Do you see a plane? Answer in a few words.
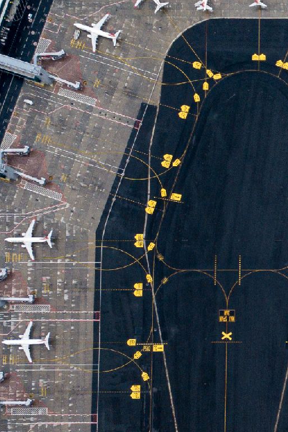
Yes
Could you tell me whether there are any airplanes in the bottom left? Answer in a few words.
Yes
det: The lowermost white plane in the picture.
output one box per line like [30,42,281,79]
[3,319,48,363]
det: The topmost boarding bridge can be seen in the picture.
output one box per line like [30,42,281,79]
[0,48,83,89]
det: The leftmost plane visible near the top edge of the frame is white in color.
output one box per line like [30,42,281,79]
[75,9,118,50]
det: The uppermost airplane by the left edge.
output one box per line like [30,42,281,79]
[6,217,49,260]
